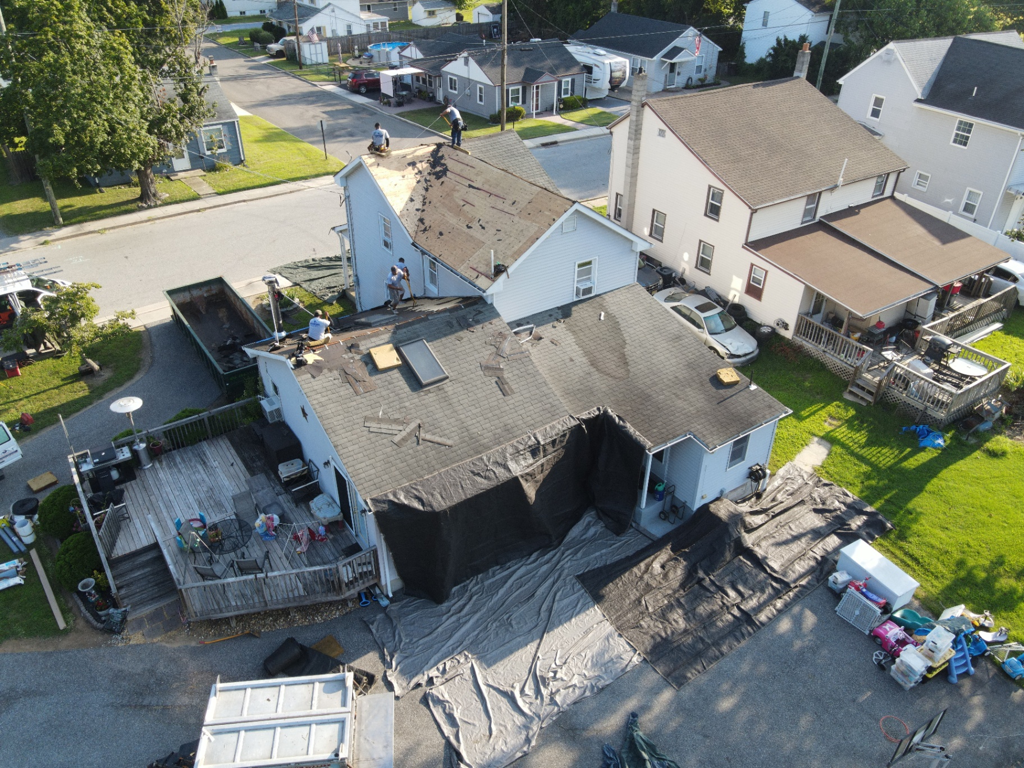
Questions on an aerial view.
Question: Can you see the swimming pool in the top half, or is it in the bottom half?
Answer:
top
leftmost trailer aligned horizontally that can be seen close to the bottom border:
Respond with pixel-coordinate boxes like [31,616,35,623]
[197,666,408,768]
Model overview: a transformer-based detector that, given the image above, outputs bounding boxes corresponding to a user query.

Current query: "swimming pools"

[368,43,413,64]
